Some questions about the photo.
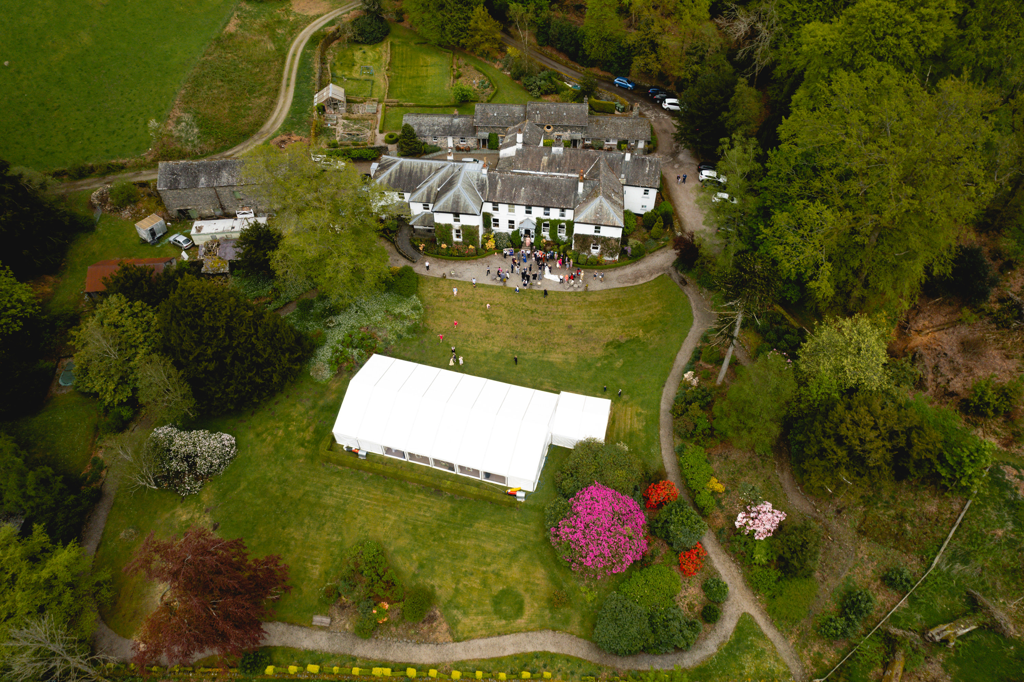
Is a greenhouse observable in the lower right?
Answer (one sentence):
No, no greenhouse is visible in the lower right.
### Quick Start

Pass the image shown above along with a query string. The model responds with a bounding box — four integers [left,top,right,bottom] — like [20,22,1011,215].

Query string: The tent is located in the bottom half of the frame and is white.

[332,354,616,493]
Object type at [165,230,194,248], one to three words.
car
